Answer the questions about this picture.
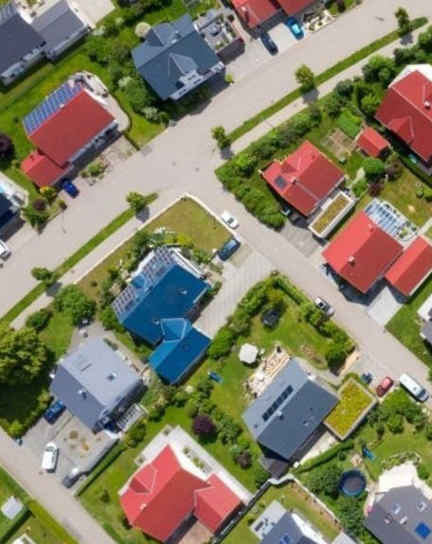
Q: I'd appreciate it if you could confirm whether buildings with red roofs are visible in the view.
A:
Yes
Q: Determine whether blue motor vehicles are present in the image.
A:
Yes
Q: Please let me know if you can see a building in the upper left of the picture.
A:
Yes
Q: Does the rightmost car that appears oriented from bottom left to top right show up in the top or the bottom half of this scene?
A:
bottom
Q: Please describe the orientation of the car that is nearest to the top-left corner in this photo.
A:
diagonally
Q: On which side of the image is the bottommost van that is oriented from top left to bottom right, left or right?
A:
right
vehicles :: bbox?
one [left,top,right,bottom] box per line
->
[260,33,278,53]
[374,375,395,397]
[220,209,241,229]
[60,177,82,197]
[285,17,304,37]
[59,465,84,491]
[217,238,240,260]
[44,401,66,422]
[396,371,430,403]
[314,298,335,317]
[40,442,58,471]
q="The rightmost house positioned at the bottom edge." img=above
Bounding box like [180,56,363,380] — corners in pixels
[368,480,432,544]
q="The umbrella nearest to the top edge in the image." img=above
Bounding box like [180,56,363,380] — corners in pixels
[240,343,259,362]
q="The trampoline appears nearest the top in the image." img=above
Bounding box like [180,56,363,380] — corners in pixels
[259,309,278,326]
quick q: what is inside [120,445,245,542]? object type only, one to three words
house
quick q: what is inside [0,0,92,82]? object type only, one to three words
house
